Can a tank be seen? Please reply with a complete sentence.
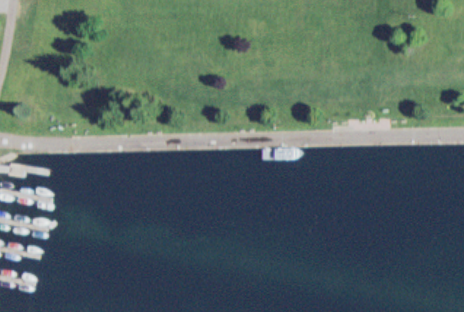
No, the frame has no tank in it.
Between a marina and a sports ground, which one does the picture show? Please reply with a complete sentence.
It's a marina.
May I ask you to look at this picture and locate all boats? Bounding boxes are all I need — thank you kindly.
[7,242,24,252]
[32,230,48,240]
[26,246,44,258]
[48,222,59,230]
[20,272,38,286]
[4,252,22,262]
[16,195,34,206]
[0,270,17,280]
[18,283,36,293]
[36,198,56,210]
[32,218,52,230]
[14,216,30,226]
[20,188,34,198]
[0,192,14,202]
[0,280,16,290]
[0,224,10,232]
[12,226,30,236]
[0,212,11,222]
[0,182,14,190]
[262,146,303,161]
[35,186,54,198]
